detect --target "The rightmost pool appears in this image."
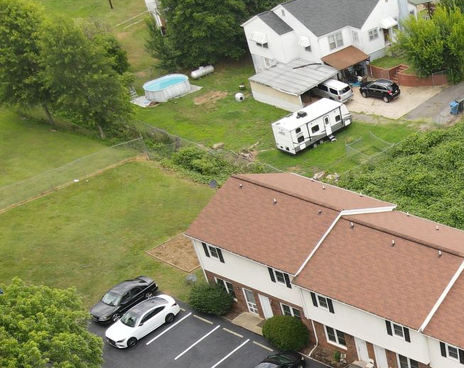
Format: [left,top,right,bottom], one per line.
[140,81,190,106]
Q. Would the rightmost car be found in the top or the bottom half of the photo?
top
